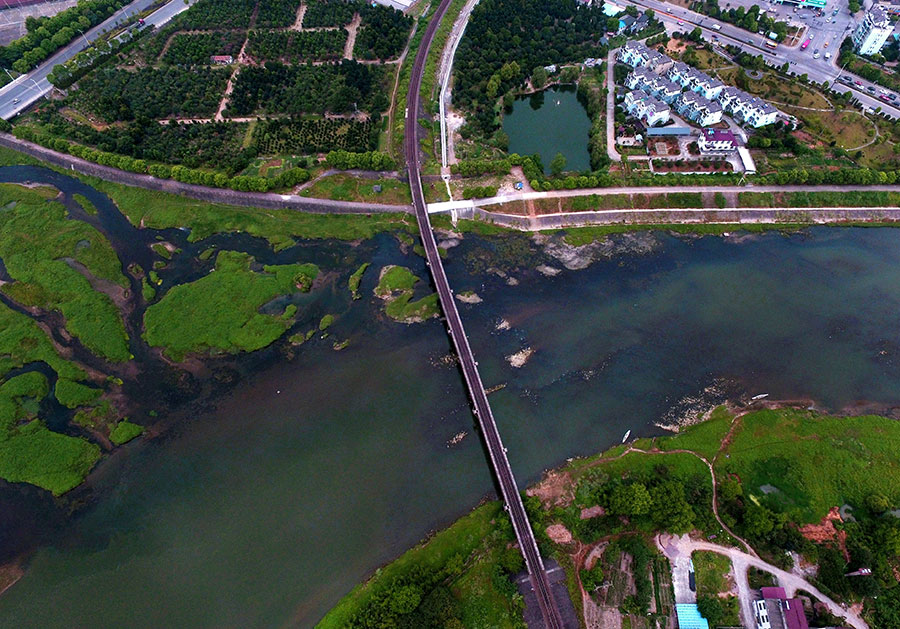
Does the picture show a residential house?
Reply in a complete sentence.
Yes, there's a residential house down there.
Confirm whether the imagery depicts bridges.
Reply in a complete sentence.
Yes, the frame does contain a bridge.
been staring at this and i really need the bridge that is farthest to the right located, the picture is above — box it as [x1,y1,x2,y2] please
[406,162,548,581]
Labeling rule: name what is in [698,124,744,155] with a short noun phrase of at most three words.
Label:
house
